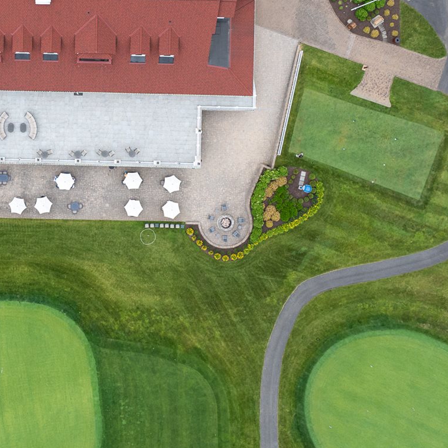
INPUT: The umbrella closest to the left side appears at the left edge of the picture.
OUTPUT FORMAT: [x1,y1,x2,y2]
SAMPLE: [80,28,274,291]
[6,195,25,214]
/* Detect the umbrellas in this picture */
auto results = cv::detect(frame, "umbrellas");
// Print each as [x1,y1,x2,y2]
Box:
[6,195,25,214]
[53,172,74,191]
[33,195,52,215]
[124,171,143,189]
[124,200,143,217]
[162,173,180,193]
[160,200,179,221]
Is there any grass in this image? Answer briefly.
Yes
